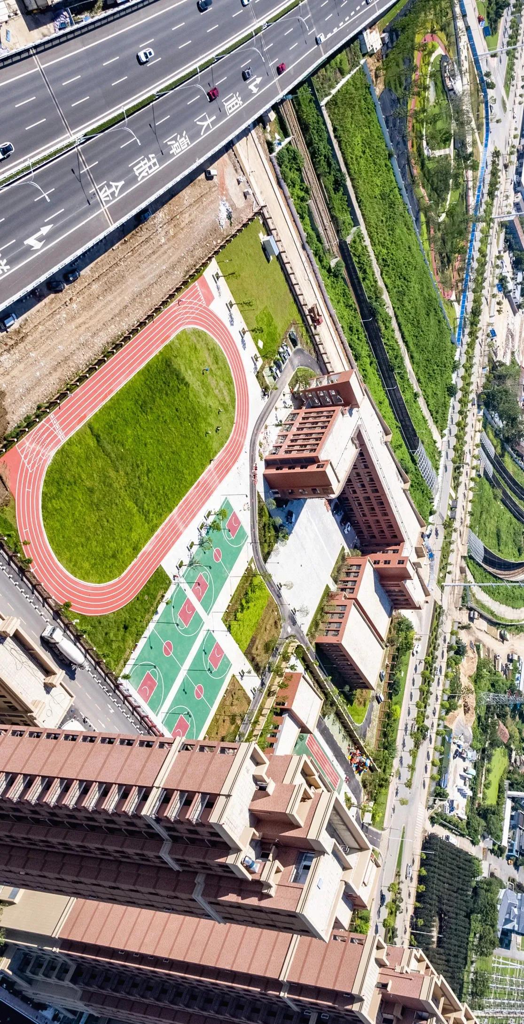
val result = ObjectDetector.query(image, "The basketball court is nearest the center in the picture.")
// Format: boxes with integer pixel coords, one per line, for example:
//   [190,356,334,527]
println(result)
[183,497,248,614]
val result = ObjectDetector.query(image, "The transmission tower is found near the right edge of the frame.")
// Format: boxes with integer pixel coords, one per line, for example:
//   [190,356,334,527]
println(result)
[477,688,524,710]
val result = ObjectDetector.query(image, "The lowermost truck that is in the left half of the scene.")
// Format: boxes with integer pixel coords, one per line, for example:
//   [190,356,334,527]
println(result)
[46,631,92,672]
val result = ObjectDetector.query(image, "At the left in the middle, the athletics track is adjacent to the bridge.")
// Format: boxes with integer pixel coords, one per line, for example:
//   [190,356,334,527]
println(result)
[1,277,249,617]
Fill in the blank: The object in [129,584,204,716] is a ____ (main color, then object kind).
green basketball court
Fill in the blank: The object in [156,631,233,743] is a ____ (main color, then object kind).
green basketball court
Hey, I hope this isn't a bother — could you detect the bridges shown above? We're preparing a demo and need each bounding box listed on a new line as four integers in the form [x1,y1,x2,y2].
[0,0,405,314]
